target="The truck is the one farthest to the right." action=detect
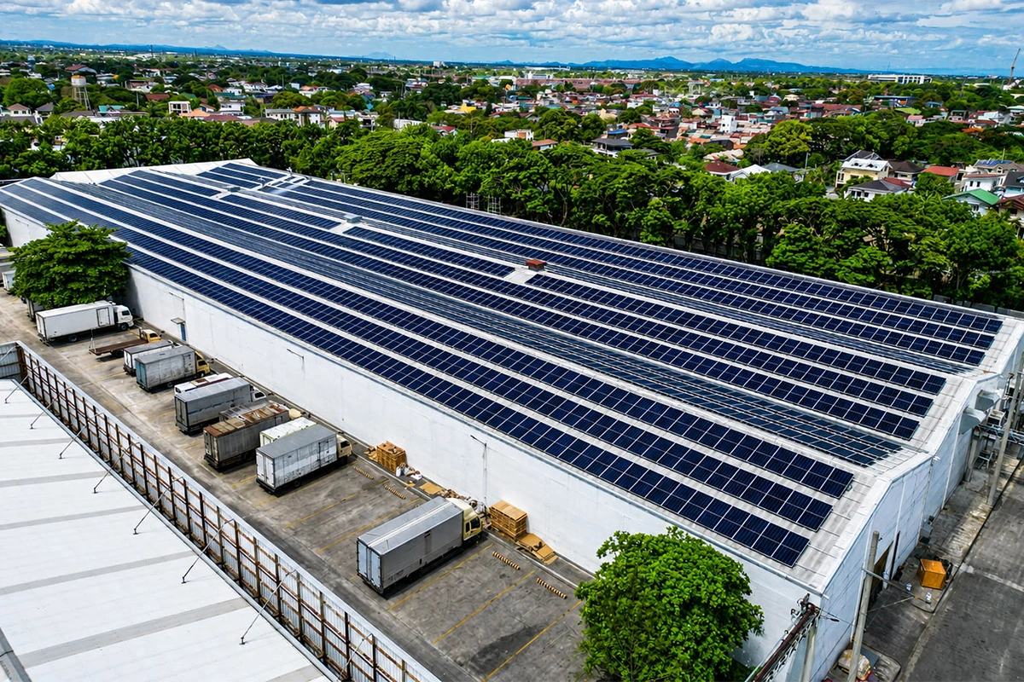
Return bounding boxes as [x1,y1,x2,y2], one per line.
[355,491,491,587]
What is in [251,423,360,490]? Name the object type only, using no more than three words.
truck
